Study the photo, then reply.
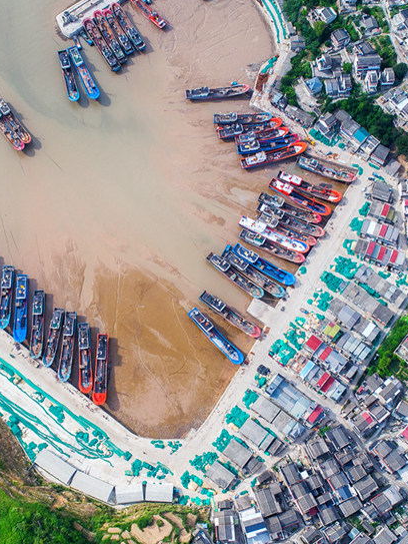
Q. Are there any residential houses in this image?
Yes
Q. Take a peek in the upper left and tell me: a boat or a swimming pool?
boat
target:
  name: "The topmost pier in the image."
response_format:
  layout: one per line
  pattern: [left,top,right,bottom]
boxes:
[57,0,131,41]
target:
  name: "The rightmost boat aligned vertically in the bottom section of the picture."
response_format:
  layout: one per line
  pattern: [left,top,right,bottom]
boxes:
[95,333,109,404]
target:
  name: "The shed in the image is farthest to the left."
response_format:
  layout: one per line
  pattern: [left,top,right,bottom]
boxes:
[35,448,78,483]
